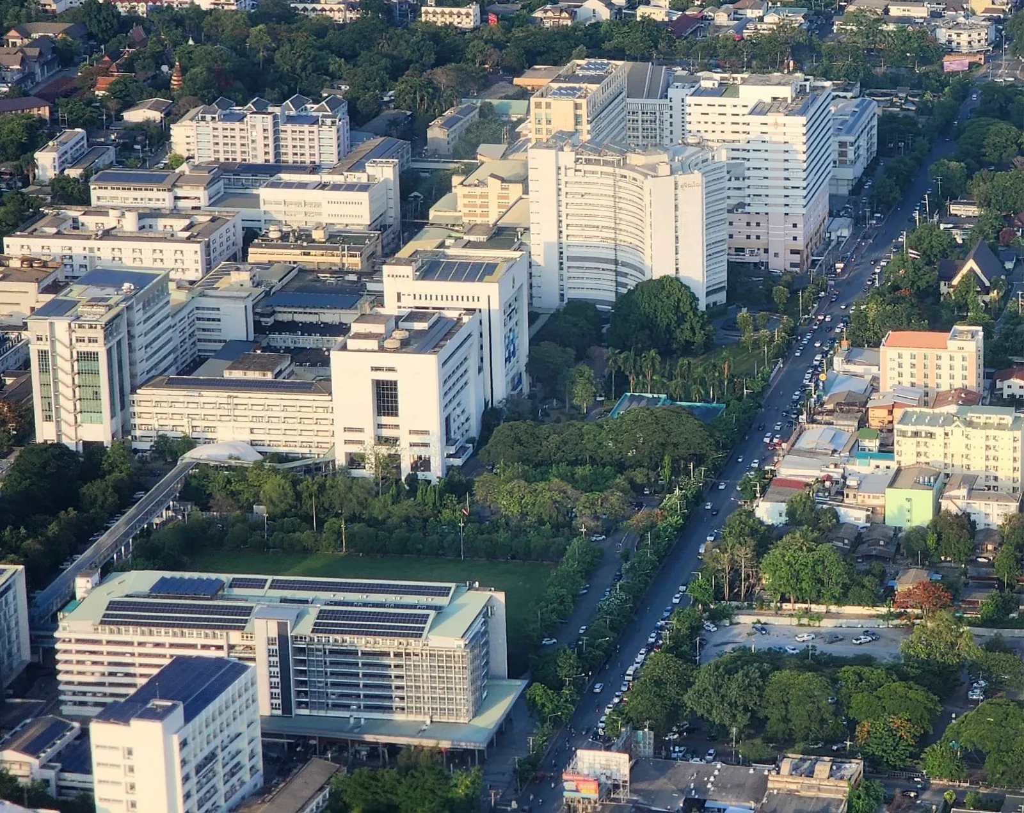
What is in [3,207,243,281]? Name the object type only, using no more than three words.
building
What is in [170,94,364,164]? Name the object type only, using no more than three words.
building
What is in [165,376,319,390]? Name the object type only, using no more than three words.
solar array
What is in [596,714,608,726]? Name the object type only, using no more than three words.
vehicle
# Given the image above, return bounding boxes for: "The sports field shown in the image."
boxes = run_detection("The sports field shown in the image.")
[185,550,571,674]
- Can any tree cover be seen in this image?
Yes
